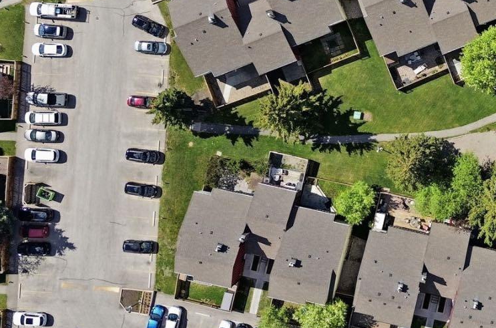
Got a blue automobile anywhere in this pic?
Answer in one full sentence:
Yes, you can see a blue automobile in this photo.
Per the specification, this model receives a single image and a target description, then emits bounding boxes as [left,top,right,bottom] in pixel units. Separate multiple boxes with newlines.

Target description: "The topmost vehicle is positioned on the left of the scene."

[33,1,77,19]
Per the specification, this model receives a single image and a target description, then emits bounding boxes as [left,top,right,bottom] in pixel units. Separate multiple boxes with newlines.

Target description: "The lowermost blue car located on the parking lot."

[148,305,166,328]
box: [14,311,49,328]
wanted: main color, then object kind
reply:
white car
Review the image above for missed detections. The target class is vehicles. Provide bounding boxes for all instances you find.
[127,95,159,109]
[33,42,69,57]
[25,127,61,144]
[14,311,49,328]
[127,147,163,164]
[134,14,166,36]
[17,240,52,256]
[123,239,159,254]
[33,23,69,39]
[26,92,70,108]
[166,304,184,328]
[26,147,61,163]
[126,182,161,198]
[18,207,57,223]
[148,305,166,328]
[25,109,63,126]
[33,1,77,19]
[135,39,167,55]
[217,317,235,328]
